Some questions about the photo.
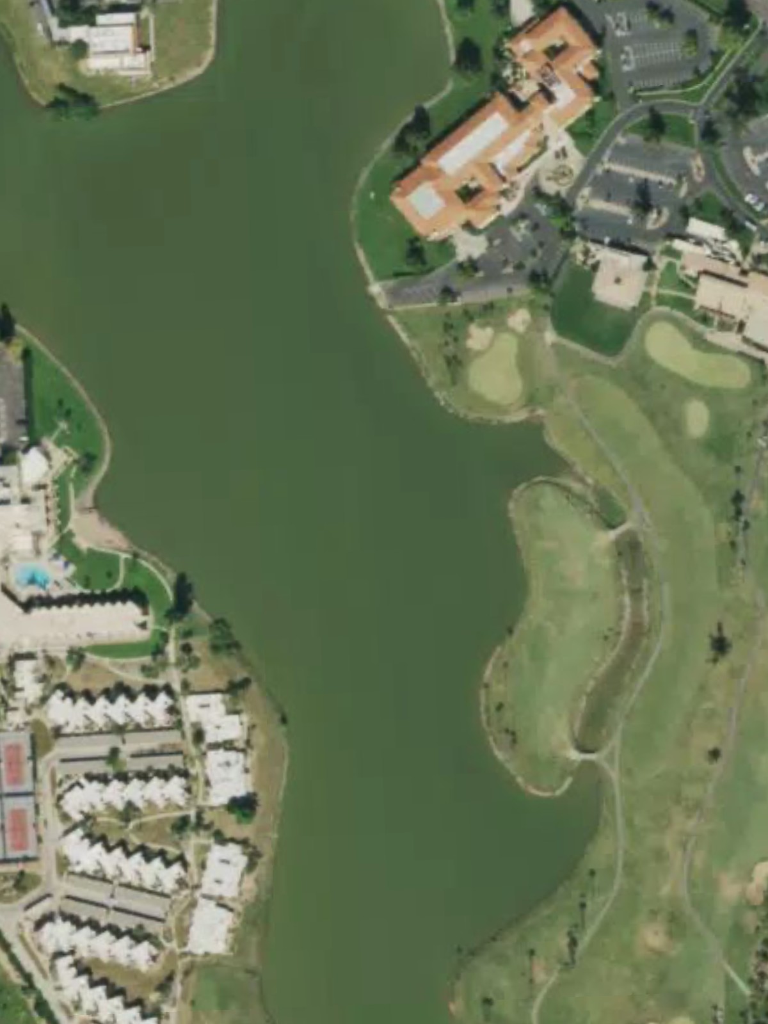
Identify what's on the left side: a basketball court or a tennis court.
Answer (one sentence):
You can see a tennis court on the left side.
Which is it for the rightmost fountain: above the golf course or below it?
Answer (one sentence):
In the image, the rightmost fountain appears above the golf course.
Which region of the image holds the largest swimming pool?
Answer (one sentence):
The largest swimming pool sits in the left section of the image.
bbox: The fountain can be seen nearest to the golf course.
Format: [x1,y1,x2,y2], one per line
[553,163,573,183]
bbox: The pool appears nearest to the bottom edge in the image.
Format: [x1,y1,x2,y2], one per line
[12,560,54,590]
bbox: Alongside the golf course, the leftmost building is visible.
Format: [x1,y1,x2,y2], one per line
[391,6,603,242]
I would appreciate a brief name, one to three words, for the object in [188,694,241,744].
building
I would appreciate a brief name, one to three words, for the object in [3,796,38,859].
tennis court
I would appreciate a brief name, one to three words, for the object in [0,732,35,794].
tennis court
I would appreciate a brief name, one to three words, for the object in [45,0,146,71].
house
